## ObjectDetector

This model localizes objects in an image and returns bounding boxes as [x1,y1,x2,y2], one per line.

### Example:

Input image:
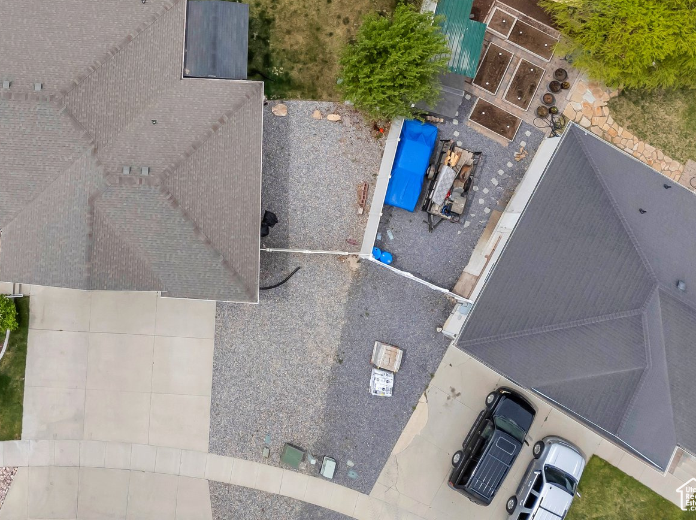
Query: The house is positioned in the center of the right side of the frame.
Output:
[443,117,696,471]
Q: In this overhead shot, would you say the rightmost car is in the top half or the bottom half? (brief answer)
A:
bottom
